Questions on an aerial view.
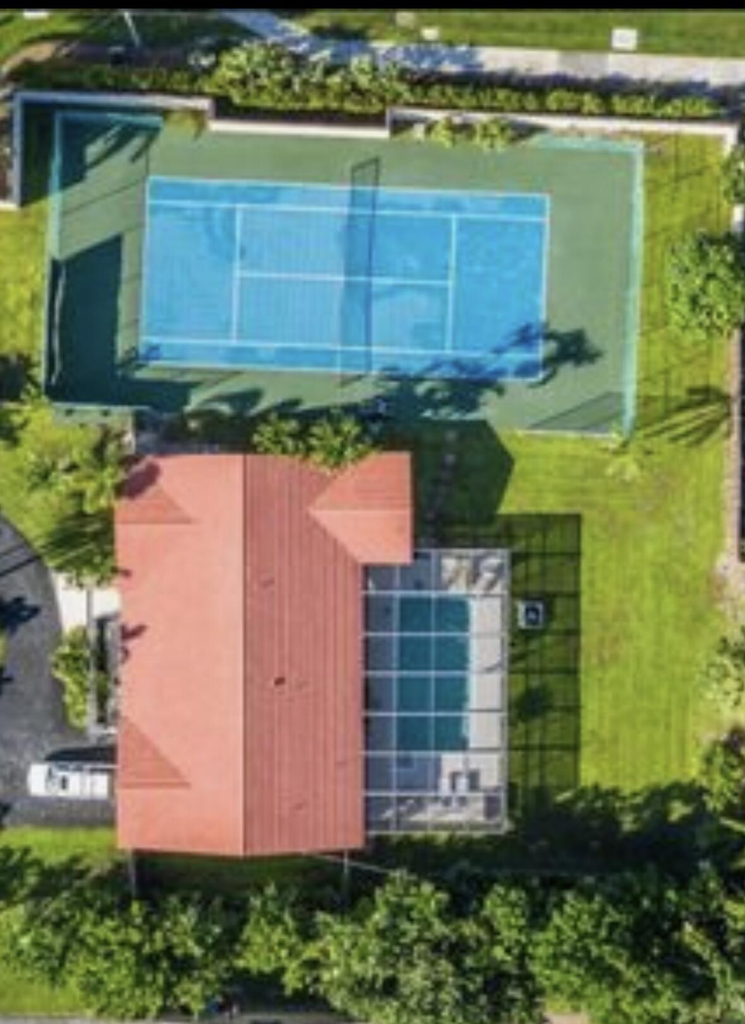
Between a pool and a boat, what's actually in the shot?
pool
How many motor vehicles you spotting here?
one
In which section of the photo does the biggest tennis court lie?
top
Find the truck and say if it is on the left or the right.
left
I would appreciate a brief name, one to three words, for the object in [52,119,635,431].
tennis court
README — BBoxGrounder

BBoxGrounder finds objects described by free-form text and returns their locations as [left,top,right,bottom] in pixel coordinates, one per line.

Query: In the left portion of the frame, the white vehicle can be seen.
[28,761,113,801]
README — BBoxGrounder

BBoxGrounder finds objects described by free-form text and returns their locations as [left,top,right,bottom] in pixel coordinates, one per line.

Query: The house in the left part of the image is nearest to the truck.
[112,452,411,856]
